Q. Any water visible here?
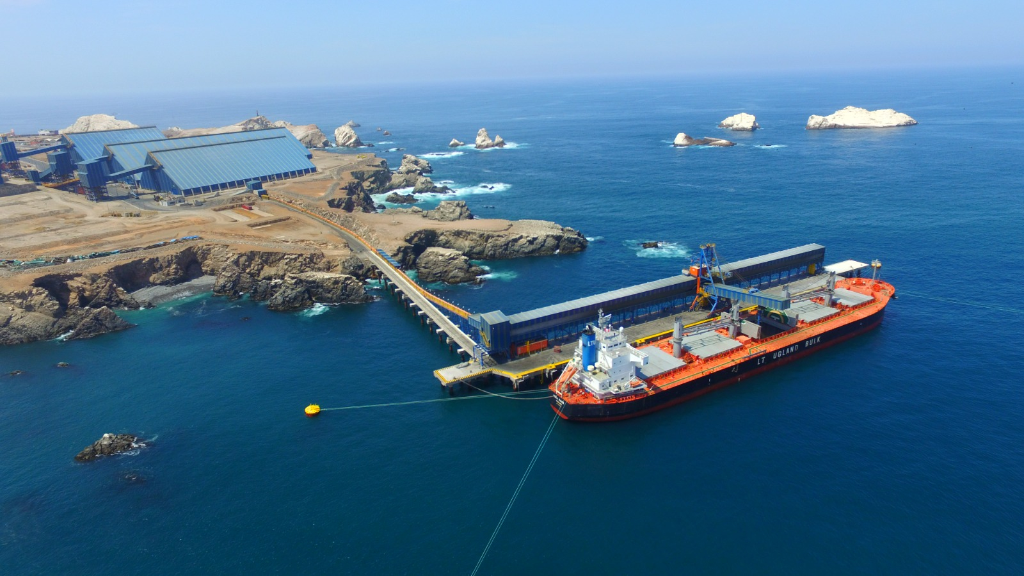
Yes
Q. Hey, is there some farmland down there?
No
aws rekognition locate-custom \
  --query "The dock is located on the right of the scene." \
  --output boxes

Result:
[434,268,856,399]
